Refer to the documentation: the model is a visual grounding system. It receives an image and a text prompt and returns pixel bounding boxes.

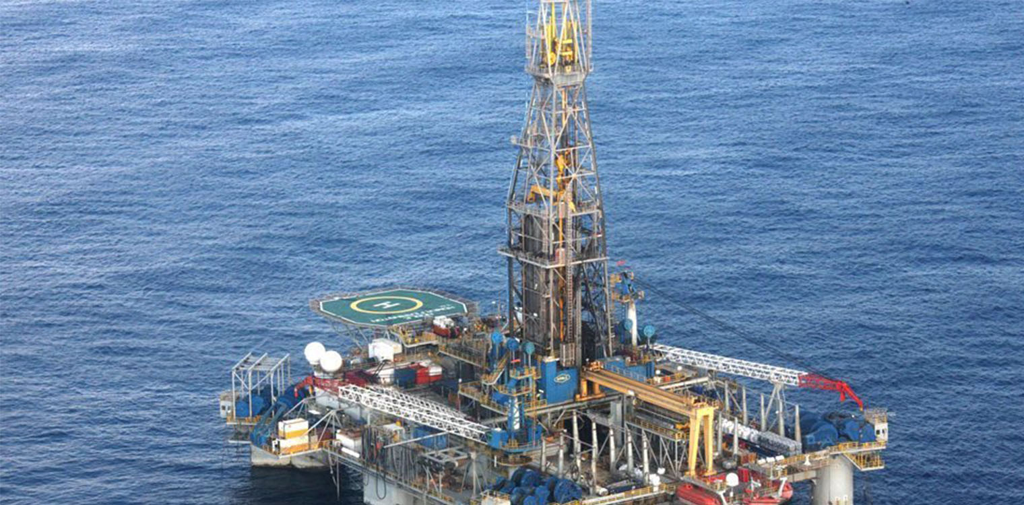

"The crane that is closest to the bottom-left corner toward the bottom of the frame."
[305,364,539,465]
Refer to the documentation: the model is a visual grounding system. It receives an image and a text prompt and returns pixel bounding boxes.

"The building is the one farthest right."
[868,414,890,444]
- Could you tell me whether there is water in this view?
Yes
